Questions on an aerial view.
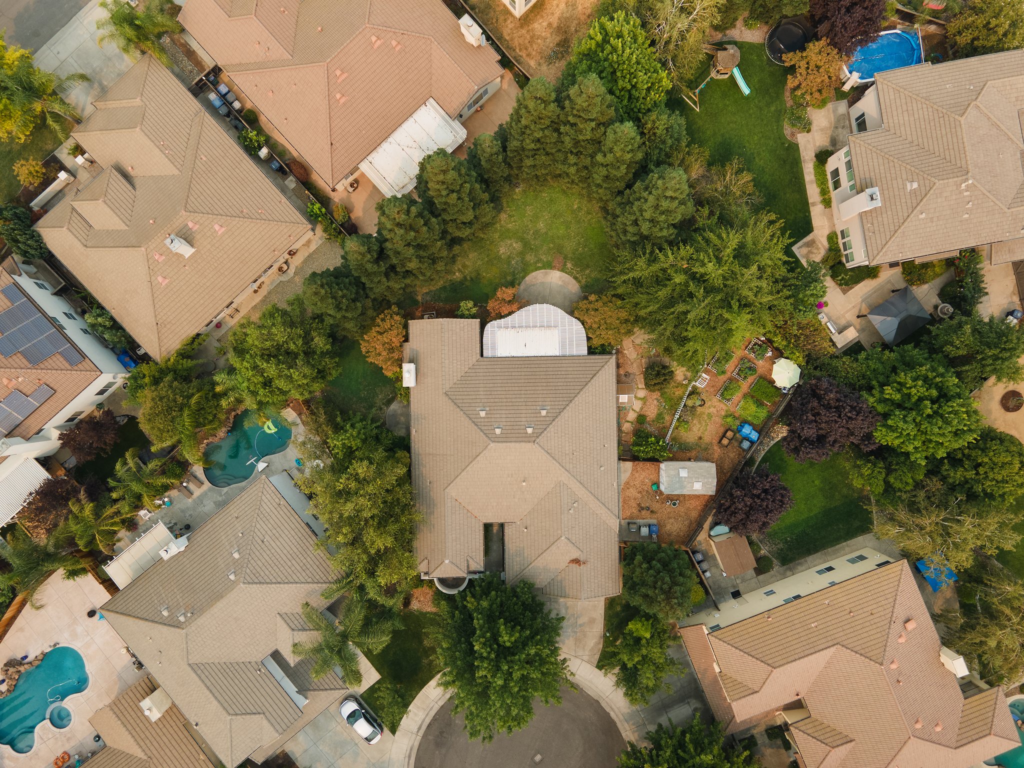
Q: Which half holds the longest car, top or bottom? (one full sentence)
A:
You can find the longest car in the bottom half.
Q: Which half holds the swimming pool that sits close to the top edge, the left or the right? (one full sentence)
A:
The swimming pool that sits close to the top edge appears in the right half of the scene.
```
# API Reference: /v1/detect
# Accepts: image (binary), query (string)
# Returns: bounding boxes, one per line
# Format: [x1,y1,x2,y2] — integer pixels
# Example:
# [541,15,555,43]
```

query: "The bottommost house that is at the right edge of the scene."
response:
[676,549,1023,768]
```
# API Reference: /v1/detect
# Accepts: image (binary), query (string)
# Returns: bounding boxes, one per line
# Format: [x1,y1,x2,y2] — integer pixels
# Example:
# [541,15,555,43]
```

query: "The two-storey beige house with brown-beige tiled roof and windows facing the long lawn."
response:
[822,42,1024,271]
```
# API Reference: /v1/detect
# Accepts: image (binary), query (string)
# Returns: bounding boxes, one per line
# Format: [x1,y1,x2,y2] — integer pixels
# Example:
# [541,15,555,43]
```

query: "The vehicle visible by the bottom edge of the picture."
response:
[340,691,385,750]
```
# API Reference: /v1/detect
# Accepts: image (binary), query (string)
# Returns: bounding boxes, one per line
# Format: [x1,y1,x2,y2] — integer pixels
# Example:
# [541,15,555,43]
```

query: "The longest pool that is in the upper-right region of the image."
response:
[839,28,922,90]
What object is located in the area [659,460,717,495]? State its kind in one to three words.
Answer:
shed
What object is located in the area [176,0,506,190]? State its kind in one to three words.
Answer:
house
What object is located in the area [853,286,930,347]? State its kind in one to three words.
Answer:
gazebo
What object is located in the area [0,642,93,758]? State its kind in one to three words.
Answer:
swimming pool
